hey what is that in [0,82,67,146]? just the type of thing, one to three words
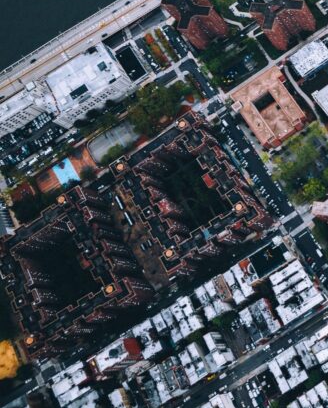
building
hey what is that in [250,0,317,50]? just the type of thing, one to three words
building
